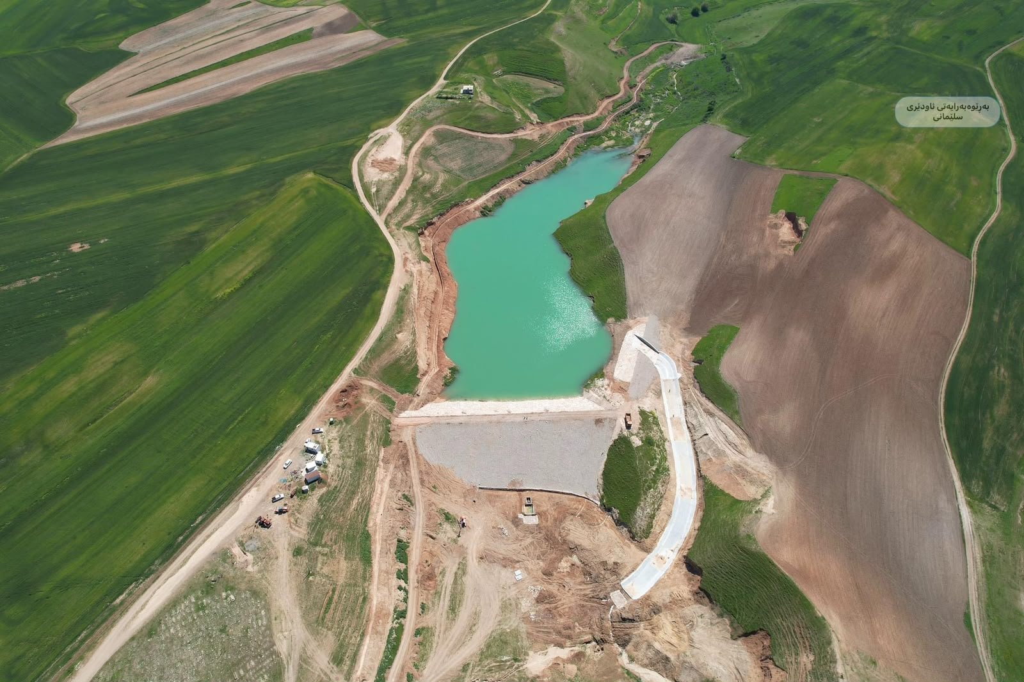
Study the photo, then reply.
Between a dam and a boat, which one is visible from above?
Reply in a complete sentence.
Looking from above, you can make out a dam.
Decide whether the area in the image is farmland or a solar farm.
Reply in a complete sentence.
The picture captures farmland.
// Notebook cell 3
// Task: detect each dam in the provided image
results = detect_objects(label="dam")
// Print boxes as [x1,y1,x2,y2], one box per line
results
[393,397,622,505]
